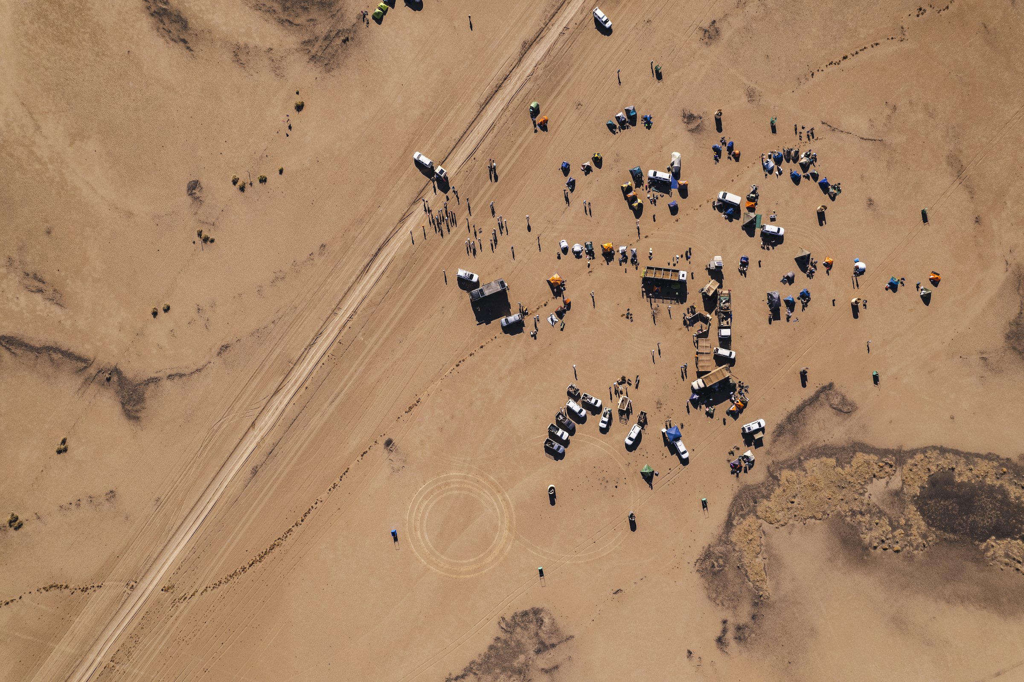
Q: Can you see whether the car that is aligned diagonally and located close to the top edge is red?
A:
No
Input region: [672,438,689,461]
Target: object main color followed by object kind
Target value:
white car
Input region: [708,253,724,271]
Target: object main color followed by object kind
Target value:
white vehicle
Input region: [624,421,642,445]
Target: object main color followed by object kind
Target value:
white car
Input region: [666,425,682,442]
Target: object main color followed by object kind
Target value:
blue gazebo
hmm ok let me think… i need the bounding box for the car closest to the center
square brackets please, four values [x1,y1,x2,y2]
[499,312,526,327]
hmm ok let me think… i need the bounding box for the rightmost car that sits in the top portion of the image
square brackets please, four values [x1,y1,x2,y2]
[758,223,784,236]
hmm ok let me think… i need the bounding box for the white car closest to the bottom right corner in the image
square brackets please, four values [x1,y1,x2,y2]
[740,418,765,433]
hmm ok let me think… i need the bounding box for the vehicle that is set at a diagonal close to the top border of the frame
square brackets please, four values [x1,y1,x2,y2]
[592,5,613,30]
